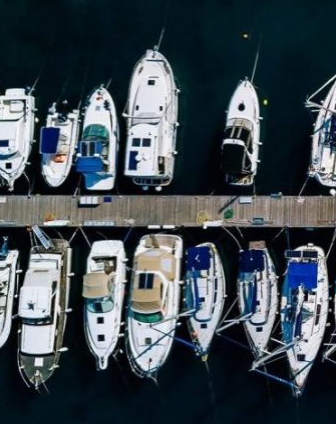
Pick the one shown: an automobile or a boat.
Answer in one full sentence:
I can see a boat in this picture.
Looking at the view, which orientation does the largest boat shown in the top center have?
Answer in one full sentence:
Seen from above, the largest boat shown in the top center lies from top to bottom.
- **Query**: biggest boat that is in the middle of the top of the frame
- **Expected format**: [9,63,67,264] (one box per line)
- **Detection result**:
[123,41,185,186]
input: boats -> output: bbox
[251,243,335,395]
[11,227,77,389]
[81,240,131,372]
[0,89,40,193]
[41,103,80,186]
[214,241,282,356]
[125,233,186,385]
[222,73,265,184]
[150,243,229,361]
[302,76,336,186]
[0,237,22,347]
[123,41,185,186]
[77,80,121,189]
